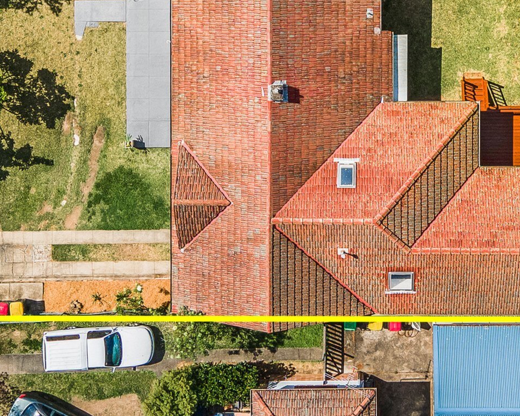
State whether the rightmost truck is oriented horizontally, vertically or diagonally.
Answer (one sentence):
In this picture, the rightmost truck is oriented horizontally.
